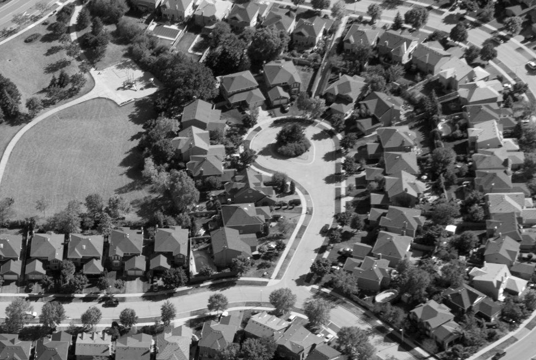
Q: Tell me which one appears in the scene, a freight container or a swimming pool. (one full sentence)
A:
The image shows a swimming pool.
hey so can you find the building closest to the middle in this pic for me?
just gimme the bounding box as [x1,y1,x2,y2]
[226,166,275,207]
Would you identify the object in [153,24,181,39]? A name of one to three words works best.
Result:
swimming pool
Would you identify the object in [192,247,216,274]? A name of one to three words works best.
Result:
swimming pool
